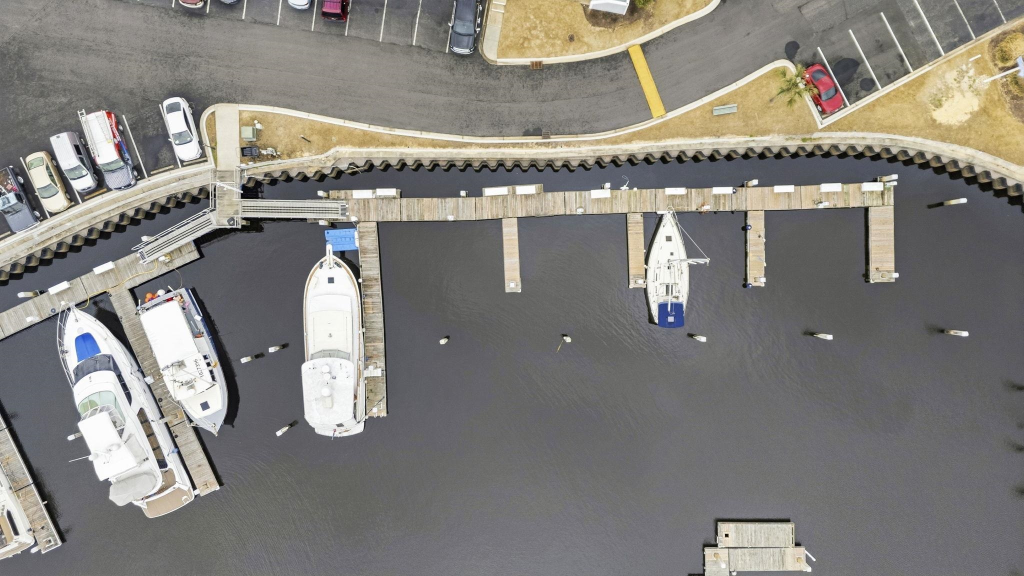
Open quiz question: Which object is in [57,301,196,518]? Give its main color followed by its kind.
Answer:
white boat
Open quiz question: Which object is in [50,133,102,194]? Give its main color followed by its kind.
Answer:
white car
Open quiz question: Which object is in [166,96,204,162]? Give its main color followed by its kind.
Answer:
white car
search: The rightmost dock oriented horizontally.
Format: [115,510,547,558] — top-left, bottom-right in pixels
[802,182,894,209]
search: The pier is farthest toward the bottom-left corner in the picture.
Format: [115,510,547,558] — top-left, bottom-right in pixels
[20,483,63,552]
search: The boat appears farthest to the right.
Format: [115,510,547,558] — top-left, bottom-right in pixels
[643,206,712,328]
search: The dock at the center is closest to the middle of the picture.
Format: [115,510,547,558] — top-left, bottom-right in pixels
[500,218,523,293]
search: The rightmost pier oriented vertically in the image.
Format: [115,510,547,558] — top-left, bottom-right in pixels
[864,206,895,282]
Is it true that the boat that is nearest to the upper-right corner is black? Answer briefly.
No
